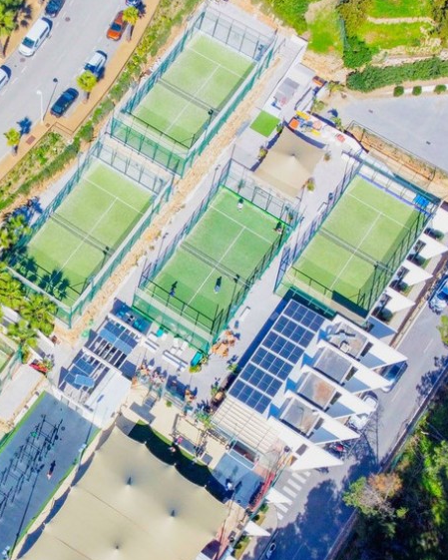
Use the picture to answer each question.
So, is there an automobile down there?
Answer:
Yes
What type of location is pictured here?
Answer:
sports ground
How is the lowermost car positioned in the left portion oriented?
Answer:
at an angle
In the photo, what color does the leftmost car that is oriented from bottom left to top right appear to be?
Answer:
white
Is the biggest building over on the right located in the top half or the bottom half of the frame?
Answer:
bottom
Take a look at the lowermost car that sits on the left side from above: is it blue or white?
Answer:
blue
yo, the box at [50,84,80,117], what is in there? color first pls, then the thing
blue car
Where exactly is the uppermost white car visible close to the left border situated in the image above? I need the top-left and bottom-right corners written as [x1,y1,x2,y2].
[20,15,50,52]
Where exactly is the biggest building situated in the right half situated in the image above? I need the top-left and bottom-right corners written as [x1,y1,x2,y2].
[224,299,408,471]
